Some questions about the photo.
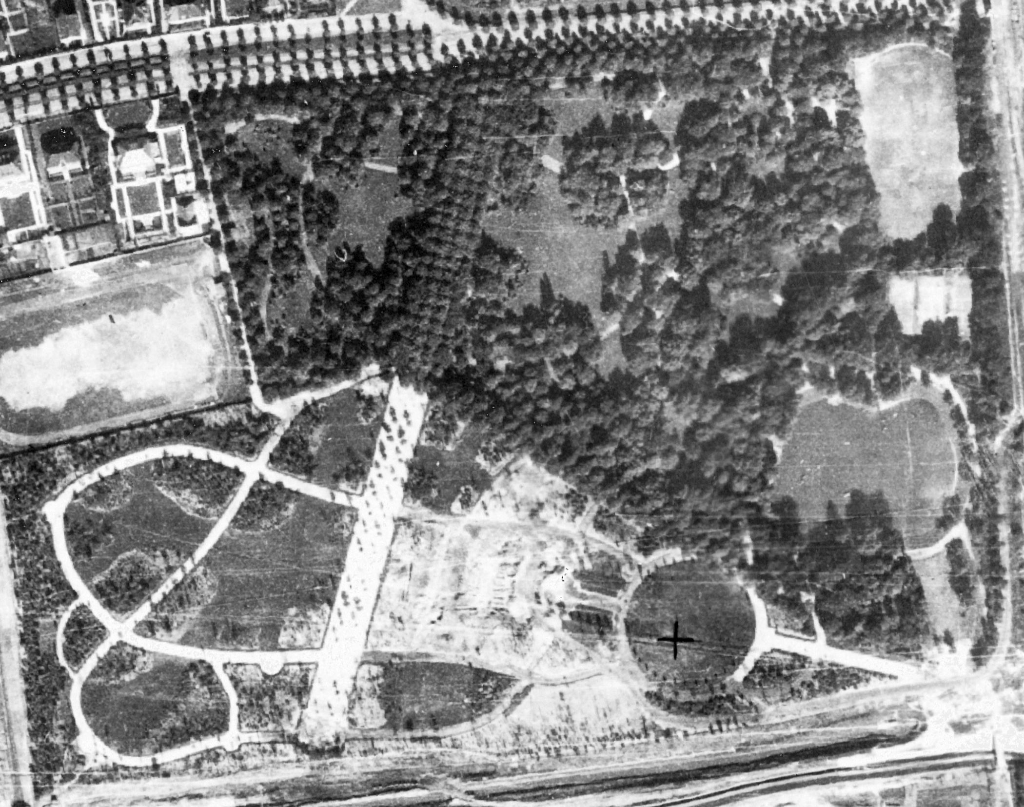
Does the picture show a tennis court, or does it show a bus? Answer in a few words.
tennis court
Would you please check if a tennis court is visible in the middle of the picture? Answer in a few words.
No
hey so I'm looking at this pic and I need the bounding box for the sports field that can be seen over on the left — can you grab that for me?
[0,234,252,455]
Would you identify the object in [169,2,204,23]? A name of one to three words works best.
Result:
house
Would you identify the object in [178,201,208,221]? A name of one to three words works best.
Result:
house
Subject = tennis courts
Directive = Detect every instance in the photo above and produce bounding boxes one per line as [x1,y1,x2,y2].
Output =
[888,276,972,342]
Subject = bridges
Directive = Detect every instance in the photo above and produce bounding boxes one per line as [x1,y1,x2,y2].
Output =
[988,694,1012,807]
